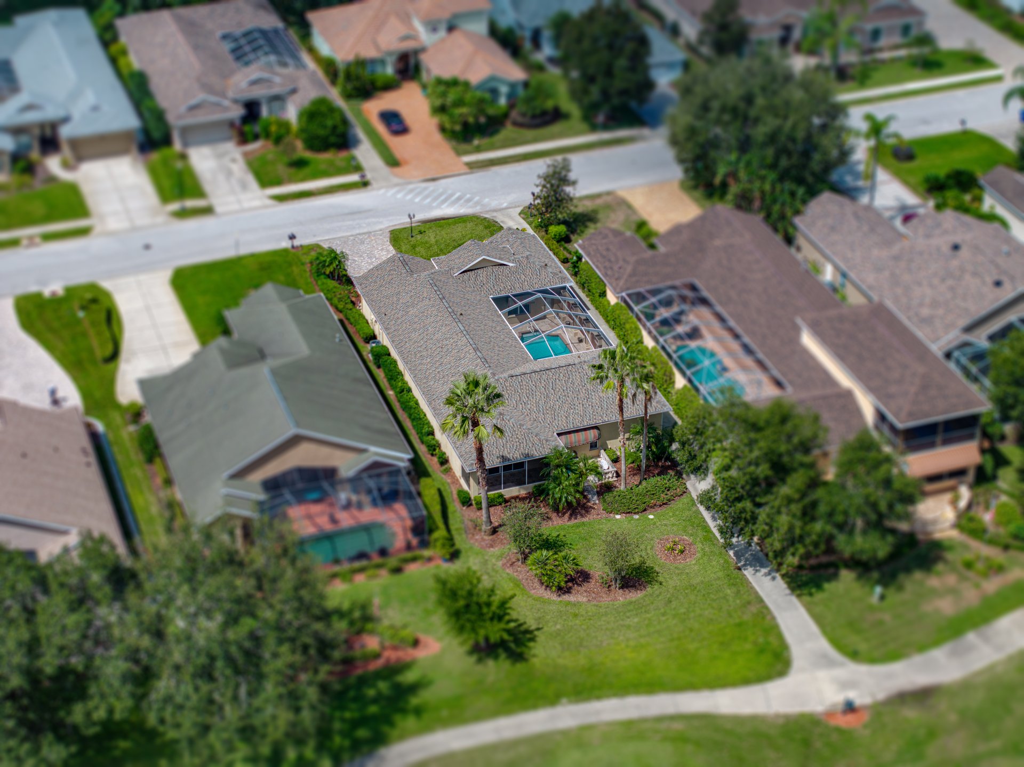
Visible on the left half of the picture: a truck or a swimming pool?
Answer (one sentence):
There is a swimming pool on the left half of the picture.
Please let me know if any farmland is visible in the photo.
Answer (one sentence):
No, there is no farmland in the image.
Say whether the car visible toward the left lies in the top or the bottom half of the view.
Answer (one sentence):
The top half of the photo is where the car visible toward the left is.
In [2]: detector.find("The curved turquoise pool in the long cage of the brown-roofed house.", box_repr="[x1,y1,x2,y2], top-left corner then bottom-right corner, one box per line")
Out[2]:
[662,340,754,402]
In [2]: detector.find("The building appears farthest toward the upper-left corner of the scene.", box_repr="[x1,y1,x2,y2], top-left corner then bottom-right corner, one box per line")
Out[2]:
[0,0,143,173]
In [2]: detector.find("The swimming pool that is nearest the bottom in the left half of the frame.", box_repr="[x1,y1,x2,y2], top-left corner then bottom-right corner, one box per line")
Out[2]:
[293,520,403,567]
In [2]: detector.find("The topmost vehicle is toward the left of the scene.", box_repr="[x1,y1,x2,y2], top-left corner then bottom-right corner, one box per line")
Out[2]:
[379,104,409,127]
